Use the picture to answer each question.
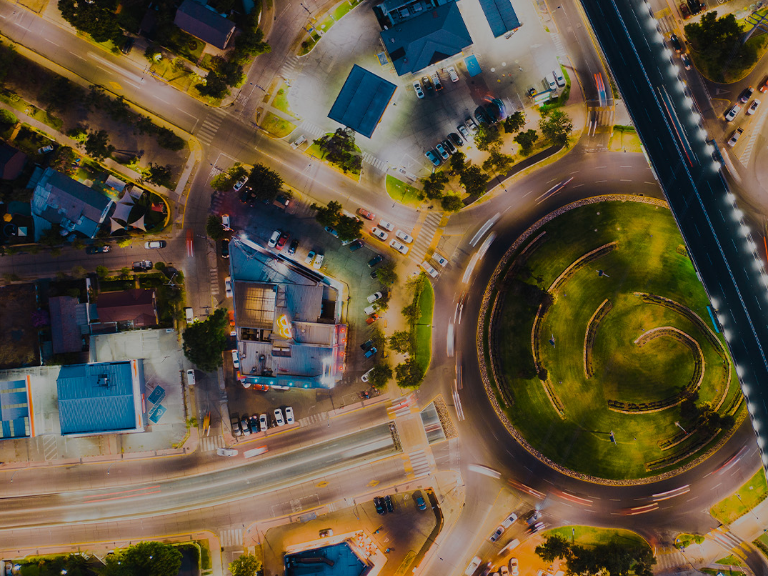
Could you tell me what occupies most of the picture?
paved ground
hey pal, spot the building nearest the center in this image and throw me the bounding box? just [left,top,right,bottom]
[229,236,348,388]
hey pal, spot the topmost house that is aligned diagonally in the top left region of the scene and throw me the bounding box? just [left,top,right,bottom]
[174,0,234,52]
